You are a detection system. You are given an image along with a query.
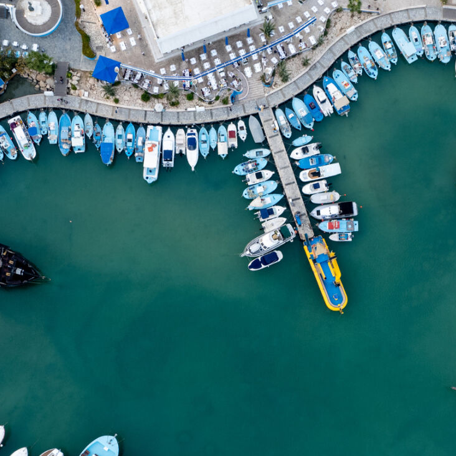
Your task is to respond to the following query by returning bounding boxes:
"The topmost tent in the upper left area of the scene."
[101,7,129,37]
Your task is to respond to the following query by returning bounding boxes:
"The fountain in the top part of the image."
[11,0,64,39]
